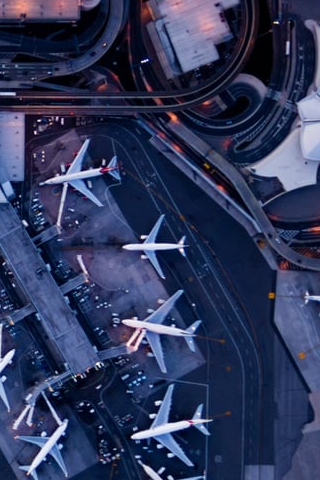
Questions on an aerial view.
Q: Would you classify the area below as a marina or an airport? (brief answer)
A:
airport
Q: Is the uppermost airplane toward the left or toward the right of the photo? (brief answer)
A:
left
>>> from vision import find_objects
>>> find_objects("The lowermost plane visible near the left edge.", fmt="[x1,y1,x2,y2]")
[13,420,68,480]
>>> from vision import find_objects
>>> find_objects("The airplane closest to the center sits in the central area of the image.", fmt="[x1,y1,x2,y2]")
[122,213,189,279]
